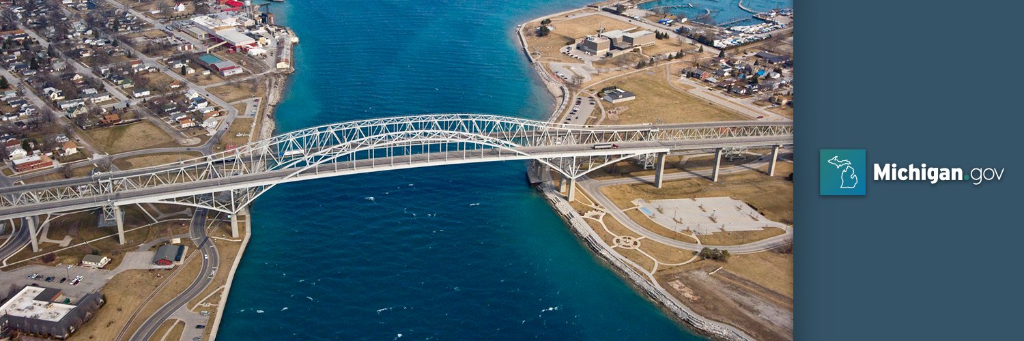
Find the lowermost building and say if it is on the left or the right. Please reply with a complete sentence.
The lowermost building appears in the left half of the scene.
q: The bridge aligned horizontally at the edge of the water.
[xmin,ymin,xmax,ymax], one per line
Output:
[0,123,1024,254]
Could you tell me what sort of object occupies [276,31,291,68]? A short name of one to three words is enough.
building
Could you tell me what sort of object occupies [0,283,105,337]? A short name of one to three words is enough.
building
